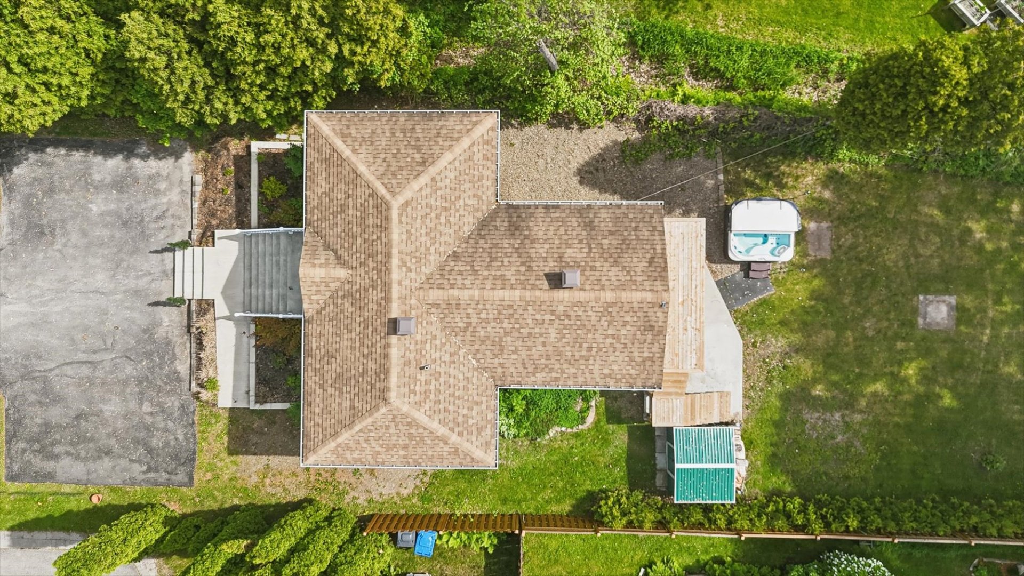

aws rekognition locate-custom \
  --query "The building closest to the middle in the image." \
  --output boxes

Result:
[297,110,670,469]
